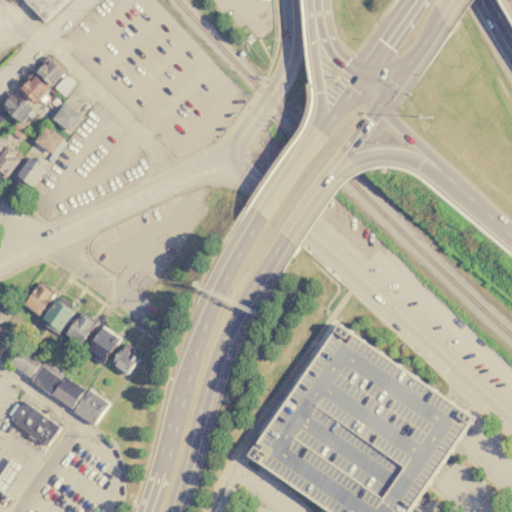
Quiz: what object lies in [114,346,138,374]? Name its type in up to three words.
house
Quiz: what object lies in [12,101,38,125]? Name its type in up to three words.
house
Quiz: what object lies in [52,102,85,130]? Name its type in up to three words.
shed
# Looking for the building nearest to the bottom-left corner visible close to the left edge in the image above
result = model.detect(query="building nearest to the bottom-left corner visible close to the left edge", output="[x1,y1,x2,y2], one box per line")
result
[10,402,60,446]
